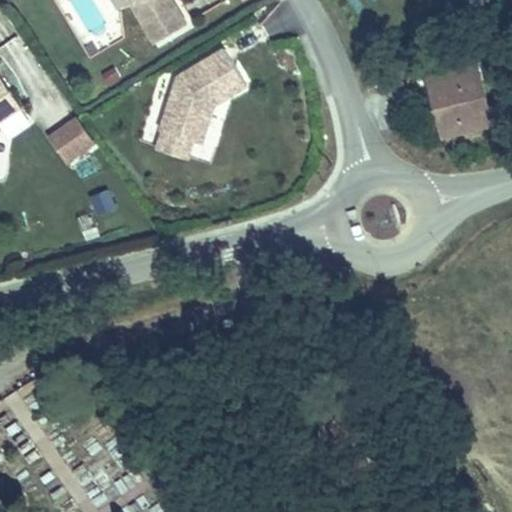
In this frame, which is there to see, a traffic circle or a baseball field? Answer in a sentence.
The image shows a traffic circle.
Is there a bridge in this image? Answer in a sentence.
No, there isn't any bridge down there.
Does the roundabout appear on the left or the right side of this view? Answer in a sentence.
The roundabout sits on the right side.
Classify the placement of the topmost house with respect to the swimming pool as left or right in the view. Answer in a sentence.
Relative to the swimming pool, the topmost house lies to the right.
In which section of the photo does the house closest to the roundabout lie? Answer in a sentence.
The house closest to the roundabout sits in the top right section of the image.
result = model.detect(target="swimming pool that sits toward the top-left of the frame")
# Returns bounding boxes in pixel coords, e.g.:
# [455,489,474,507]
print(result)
[54,0,126,58]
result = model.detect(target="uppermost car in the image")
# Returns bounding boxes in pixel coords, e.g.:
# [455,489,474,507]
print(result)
[238,34,256,48]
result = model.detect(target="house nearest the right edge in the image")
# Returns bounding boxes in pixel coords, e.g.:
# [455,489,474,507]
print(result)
[428,64,492,142]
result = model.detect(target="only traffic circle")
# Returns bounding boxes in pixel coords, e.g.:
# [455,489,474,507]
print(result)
[334,167,434,267]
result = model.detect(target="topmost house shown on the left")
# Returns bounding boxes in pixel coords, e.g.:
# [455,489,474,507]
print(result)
[120,0,194,48]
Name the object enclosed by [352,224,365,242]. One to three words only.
vehicle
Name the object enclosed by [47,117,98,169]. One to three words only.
building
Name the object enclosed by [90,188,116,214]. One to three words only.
shed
